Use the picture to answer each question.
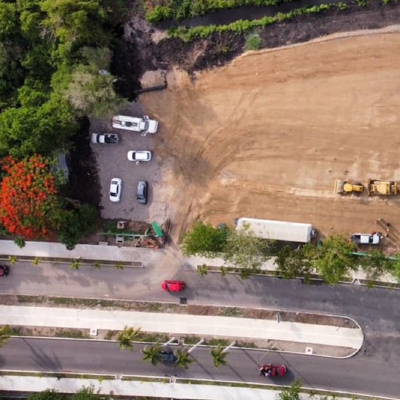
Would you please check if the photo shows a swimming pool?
No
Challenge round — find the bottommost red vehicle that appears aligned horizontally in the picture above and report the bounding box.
[259,364,287,377]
